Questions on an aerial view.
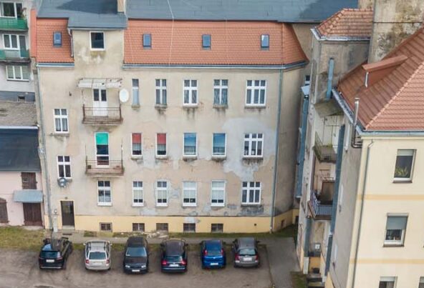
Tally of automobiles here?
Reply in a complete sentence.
In total, 6 automobiles can be seen.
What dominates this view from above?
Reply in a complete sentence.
The largest share of the image is taken up by buildings.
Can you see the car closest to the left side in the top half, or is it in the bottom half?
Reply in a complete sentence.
It is in the bottom half that the car closest to the left side appears.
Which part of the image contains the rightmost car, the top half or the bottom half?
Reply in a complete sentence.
It is in the bottom half that the rightmost car appears.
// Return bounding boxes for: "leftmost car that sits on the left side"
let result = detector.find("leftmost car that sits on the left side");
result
[40,232,82,267]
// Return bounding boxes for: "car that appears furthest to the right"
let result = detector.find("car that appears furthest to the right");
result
[230,233,262,265]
